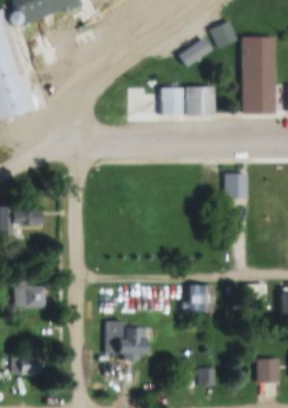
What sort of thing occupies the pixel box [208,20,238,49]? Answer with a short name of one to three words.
shed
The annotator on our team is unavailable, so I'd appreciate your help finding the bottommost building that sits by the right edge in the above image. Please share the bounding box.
[256,358,281,383]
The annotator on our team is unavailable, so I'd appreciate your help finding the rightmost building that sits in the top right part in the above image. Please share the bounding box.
[240,36,277,112]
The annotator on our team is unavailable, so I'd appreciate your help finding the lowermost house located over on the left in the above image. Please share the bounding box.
[11,356,46,376]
